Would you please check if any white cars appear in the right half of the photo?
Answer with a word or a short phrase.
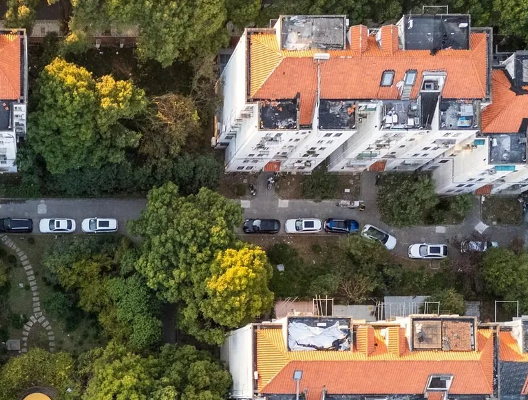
Yes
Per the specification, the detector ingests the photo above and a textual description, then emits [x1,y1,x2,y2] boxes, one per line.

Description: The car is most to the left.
[0,217,32,234]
